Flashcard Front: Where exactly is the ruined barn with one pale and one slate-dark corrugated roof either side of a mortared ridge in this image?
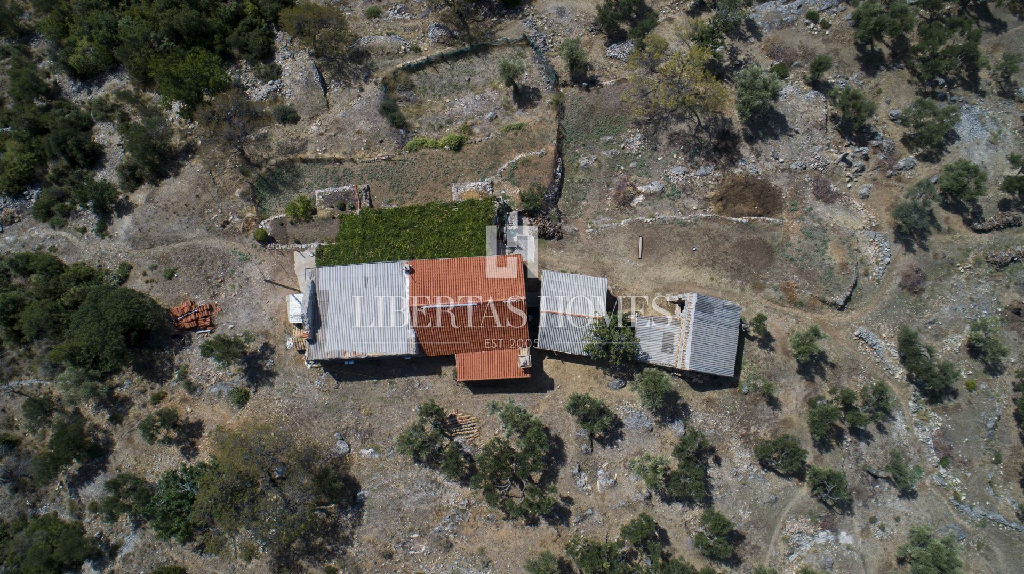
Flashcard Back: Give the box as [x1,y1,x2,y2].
[628,293,742,377]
